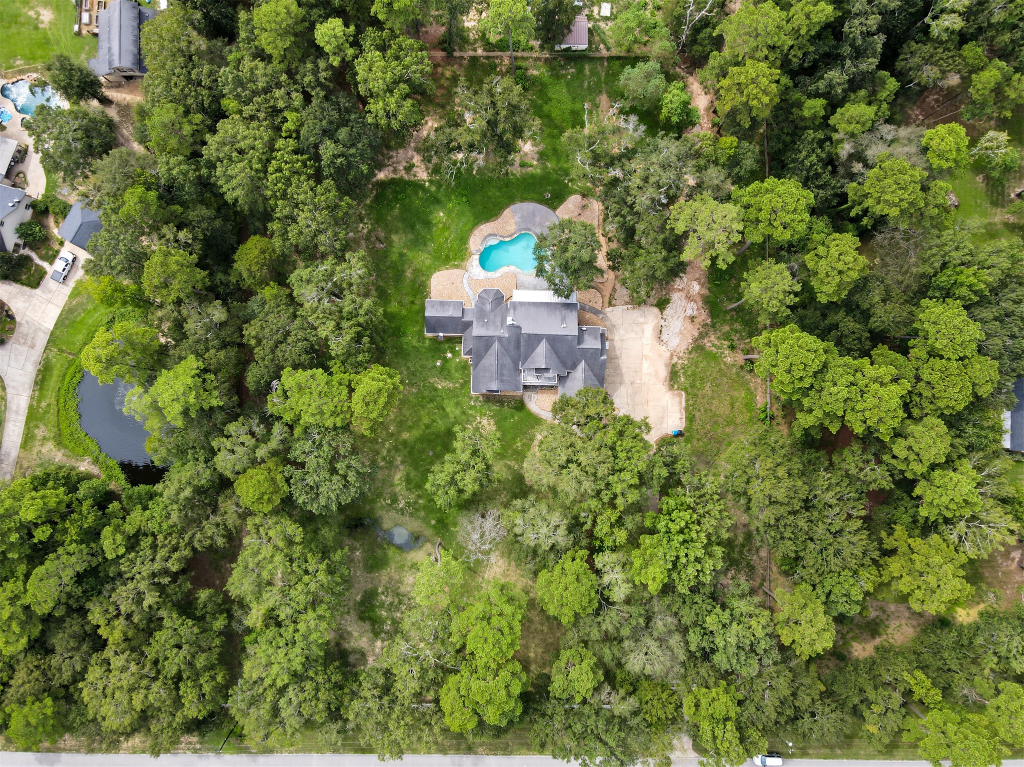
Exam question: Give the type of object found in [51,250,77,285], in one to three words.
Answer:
truck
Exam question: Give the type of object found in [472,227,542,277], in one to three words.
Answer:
swimming pool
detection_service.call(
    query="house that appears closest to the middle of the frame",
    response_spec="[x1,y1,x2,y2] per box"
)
[424,288,607,401]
